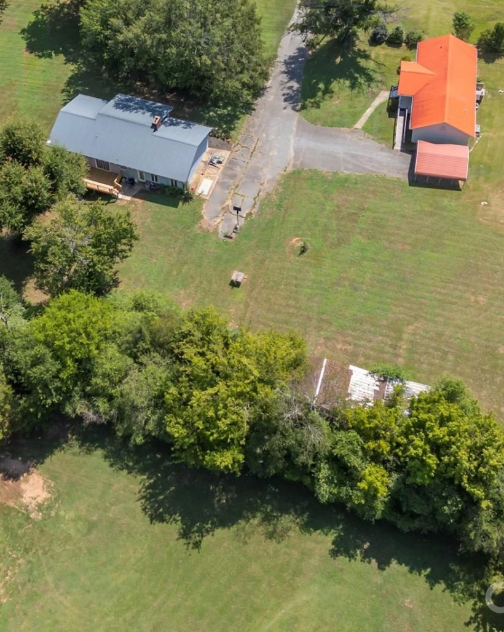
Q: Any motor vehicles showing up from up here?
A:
No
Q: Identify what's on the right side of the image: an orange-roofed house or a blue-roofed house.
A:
orange-roofed house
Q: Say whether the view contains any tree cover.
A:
Yes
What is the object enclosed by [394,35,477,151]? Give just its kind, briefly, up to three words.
house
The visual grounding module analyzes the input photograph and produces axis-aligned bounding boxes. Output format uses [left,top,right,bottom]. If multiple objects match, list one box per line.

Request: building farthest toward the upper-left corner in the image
[47,95,213,194]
